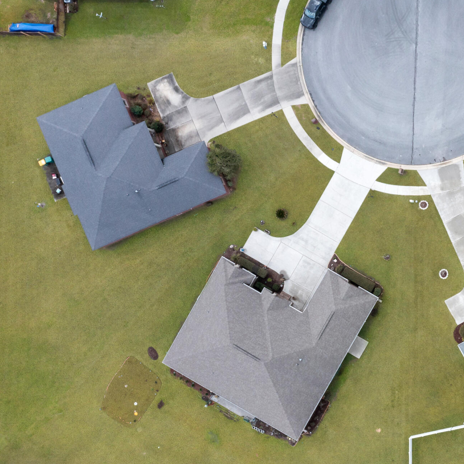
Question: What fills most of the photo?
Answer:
grass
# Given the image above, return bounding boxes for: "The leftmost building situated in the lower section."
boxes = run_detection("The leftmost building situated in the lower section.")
[161,255,379,441]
